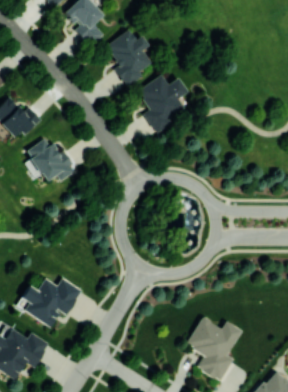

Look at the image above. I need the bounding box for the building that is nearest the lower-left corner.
[0,328,50,382]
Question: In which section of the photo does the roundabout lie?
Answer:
center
